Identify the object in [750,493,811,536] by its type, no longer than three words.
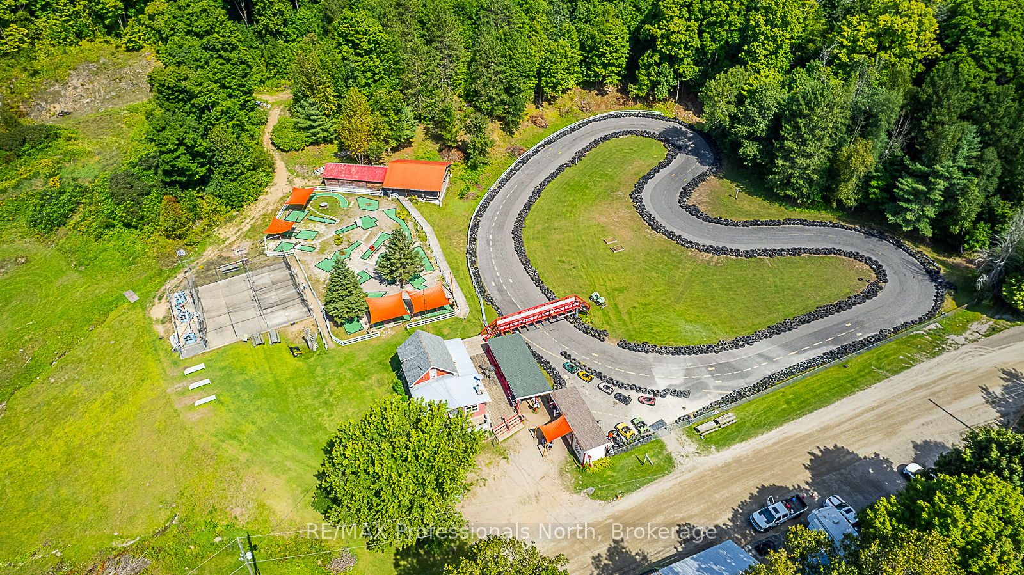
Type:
truck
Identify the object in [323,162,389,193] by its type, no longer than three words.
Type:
shed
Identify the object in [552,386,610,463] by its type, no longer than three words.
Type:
building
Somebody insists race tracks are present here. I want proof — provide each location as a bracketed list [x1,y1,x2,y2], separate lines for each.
[473,115,939,453]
